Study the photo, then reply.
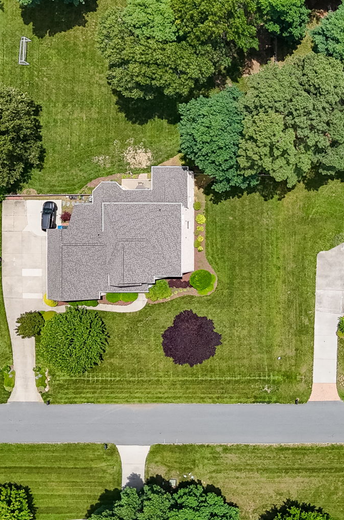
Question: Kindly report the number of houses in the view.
1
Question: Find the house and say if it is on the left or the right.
left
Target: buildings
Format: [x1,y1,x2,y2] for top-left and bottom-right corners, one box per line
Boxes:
[47,166,193,299]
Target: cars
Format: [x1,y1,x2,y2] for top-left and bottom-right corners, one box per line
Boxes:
[37,198,55,231]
